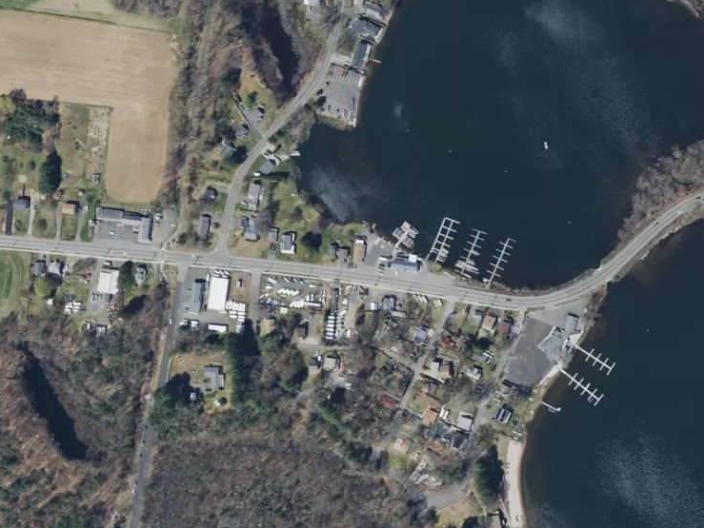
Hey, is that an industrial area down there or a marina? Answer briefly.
marina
